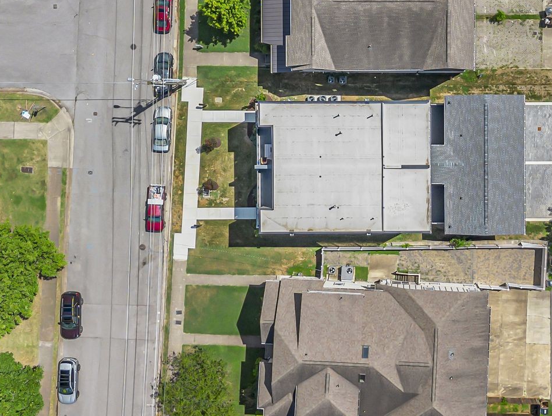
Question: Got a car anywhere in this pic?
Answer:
Yes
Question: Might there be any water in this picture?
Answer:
No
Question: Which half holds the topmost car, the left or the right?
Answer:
left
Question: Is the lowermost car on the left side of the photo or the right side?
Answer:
left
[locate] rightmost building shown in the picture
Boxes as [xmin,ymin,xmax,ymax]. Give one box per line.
[431,95,526,235]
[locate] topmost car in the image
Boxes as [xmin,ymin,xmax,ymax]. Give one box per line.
[151,0,175,34]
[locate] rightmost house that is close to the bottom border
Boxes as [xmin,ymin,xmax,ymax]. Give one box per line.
[256,273,493,416]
